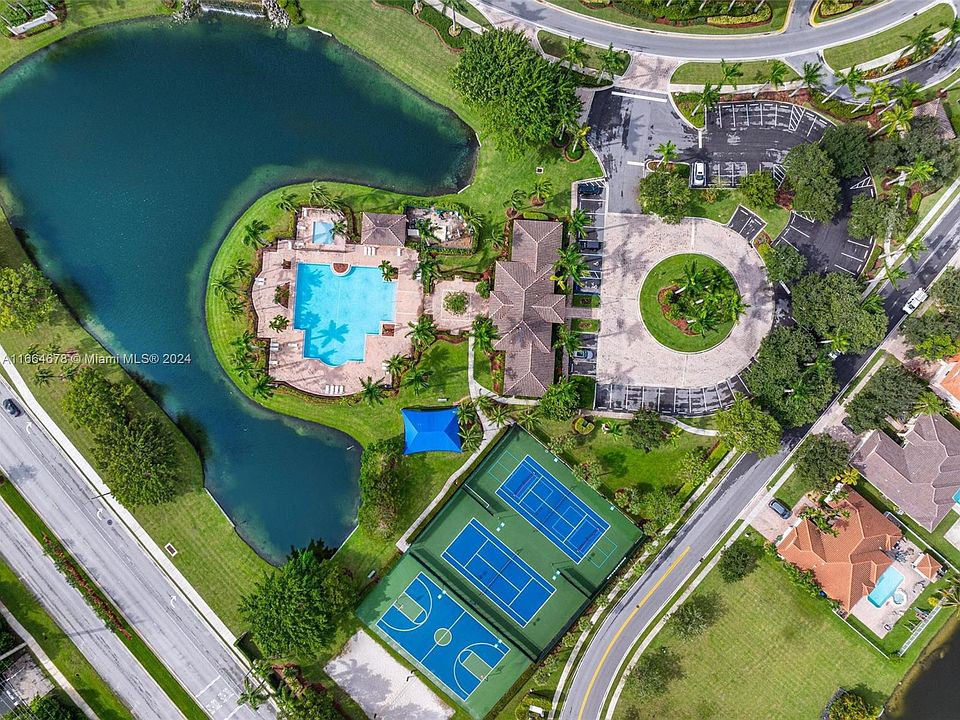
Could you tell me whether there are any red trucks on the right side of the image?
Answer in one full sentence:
No, there is no red truck on the right side of the image.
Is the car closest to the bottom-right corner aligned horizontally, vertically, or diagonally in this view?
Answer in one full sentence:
The car closest to the bottom-right corner runs diagonally in the image.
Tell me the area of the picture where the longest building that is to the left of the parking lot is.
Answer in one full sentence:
The longest building that is to the left of the parking lot is in the center part of the image.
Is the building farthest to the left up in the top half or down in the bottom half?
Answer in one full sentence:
You can find the building farthest to the left in the top half.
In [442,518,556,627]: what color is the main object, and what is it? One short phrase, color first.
blue tennis court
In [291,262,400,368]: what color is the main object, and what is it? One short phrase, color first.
blue swimming pool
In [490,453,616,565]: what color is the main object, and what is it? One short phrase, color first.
blue tennis court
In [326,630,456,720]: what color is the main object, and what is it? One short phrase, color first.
white sports court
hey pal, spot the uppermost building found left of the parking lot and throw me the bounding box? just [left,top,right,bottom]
[361,213,407,248]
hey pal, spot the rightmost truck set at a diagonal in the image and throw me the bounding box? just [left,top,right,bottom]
[903,288,932,316]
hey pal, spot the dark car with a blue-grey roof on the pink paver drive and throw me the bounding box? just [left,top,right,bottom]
[771,499,793,519]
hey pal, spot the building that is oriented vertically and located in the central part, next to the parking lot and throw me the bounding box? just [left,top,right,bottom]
[489,220,566,397]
